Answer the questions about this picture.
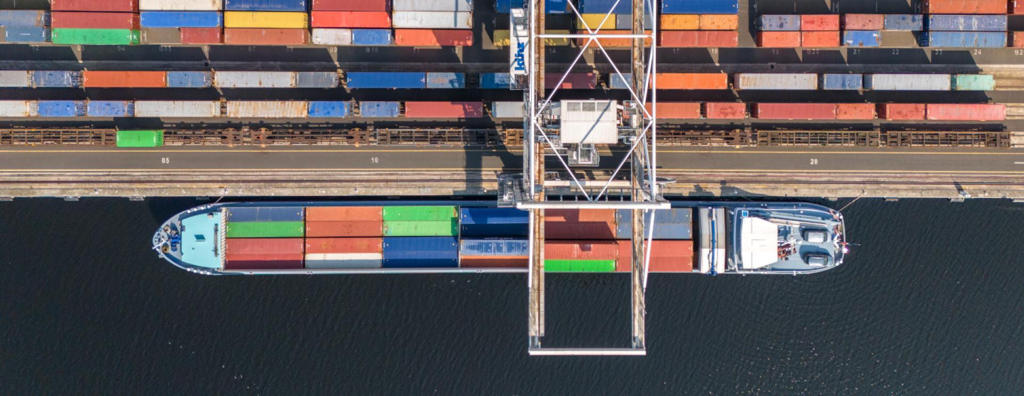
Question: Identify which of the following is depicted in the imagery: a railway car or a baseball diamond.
railway car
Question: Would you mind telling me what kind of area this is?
port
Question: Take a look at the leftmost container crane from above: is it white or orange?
white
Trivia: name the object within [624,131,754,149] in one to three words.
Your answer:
rail car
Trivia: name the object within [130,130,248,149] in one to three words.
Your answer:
rail car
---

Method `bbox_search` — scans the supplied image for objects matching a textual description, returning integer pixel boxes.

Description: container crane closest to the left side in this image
[497,0,675,355]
